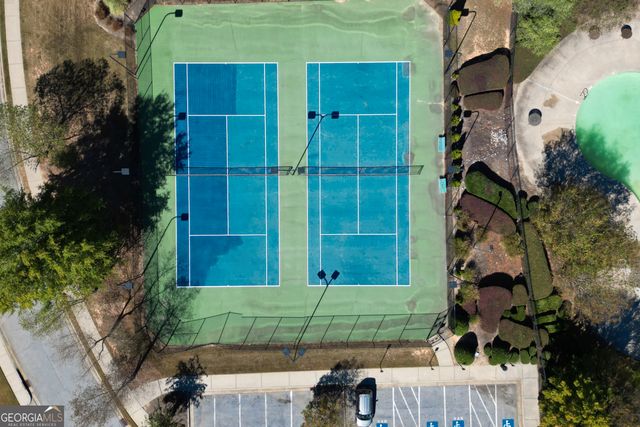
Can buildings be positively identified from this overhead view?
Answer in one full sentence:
No, I can see no building in this picture.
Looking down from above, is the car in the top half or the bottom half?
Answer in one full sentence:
The car sits in the bottom half of the picture.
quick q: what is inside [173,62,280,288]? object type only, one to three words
tennis court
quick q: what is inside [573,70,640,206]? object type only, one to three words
swimming pool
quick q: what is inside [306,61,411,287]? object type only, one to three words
tennis court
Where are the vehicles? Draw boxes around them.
[356,387,376,427]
